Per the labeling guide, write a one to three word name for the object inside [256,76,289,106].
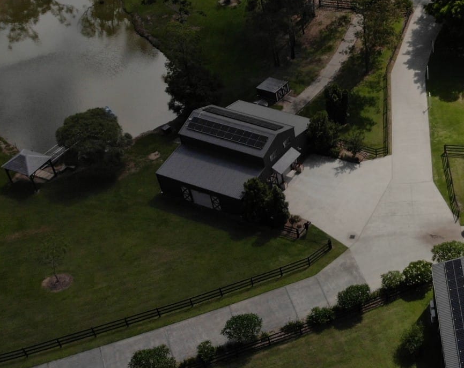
building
